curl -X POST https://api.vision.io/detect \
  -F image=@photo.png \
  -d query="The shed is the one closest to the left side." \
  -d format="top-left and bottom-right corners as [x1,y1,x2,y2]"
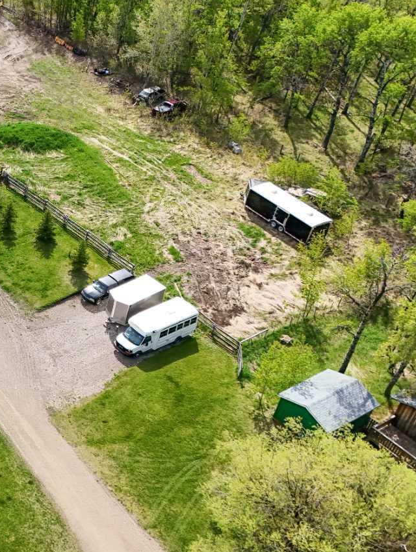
[277,370,378,442]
